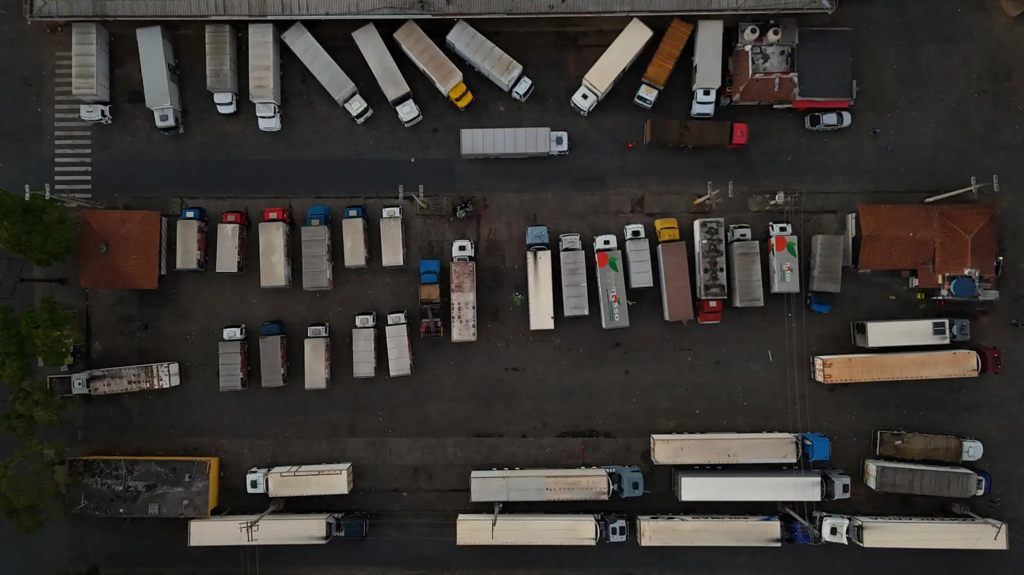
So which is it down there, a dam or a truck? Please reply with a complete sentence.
Visible in the photo is a truck.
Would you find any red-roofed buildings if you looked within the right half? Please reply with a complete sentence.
Yes, looking within the right half, one can make out a red-roofed building.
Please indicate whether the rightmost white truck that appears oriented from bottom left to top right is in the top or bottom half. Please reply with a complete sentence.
Seen from above, the rightmost white truck that appears oriented from bottom left to top right lies in the top half of the view.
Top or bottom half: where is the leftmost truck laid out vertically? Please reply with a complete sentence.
You can find the leftmost truck laid out vertically in the top half.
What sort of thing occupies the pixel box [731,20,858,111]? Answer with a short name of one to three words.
building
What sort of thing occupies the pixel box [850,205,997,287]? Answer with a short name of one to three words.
house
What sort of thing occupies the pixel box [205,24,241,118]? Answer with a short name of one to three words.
truck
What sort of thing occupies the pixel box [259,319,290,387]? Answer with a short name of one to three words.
truck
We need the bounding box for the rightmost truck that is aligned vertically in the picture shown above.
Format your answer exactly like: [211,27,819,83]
[804,235,841,314]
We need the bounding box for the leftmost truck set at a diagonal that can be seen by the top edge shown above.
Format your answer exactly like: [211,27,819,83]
[282,21,375,125]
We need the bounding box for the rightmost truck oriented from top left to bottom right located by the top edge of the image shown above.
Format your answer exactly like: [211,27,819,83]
[447,20,535,103]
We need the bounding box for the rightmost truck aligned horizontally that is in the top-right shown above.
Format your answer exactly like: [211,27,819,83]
[803,109,851,132]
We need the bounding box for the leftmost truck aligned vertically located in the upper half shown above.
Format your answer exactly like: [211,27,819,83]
[72,22,114,127]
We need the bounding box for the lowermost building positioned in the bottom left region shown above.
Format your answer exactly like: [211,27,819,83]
[64,454,220,518]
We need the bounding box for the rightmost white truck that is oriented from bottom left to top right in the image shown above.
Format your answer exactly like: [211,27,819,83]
[567,20,653,120]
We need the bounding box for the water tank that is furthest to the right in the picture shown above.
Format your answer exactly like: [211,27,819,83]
[935,276,974,299]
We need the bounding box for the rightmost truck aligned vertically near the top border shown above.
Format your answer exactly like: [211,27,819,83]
[689,20,723,121]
